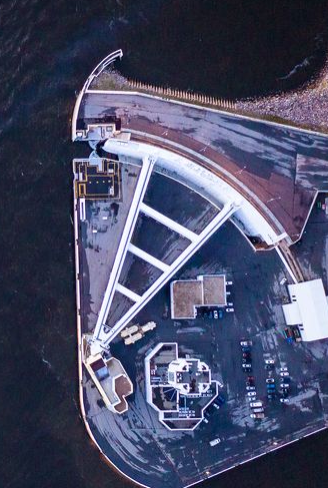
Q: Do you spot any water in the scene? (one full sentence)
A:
Yes, there is water in the image.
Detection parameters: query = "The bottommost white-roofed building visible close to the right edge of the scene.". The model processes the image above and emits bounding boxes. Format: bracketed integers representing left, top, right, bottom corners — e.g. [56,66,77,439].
[277,278,328,342]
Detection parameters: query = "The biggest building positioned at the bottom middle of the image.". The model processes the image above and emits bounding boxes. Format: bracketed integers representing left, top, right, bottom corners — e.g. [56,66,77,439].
[145,344,223,429]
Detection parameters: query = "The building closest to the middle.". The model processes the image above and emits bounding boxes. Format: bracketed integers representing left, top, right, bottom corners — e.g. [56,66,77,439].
[171,275,226,318]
